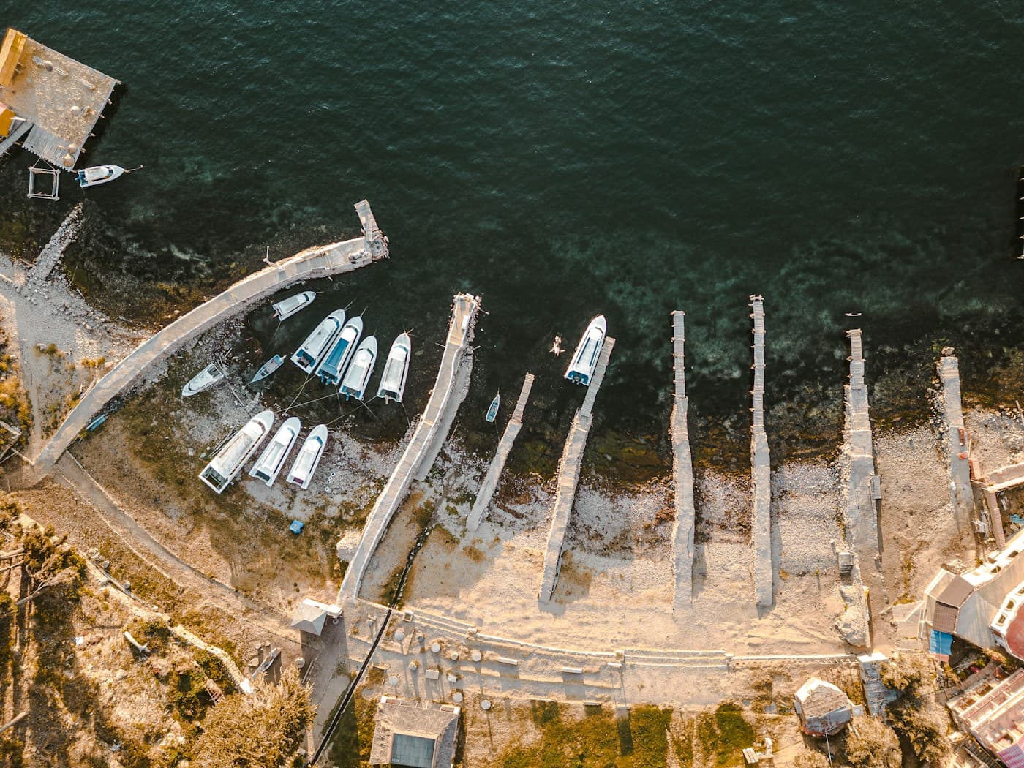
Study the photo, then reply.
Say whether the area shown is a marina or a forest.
marina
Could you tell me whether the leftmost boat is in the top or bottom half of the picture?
top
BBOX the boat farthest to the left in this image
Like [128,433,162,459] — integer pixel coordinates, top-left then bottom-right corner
[76,166,128,187]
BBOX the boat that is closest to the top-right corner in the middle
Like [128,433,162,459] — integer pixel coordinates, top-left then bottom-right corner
[565,315,606,388]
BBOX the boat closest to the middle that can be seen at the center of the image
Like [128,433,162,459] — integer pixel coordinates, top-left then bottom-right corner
[486,394,500,423]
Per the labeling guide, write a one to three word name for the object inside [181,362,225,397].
boat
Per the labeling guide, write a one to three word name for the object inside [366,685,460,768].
building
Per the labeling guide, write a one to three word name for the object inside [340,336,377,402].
boat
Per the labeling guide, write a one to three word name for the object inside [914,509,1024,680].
building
